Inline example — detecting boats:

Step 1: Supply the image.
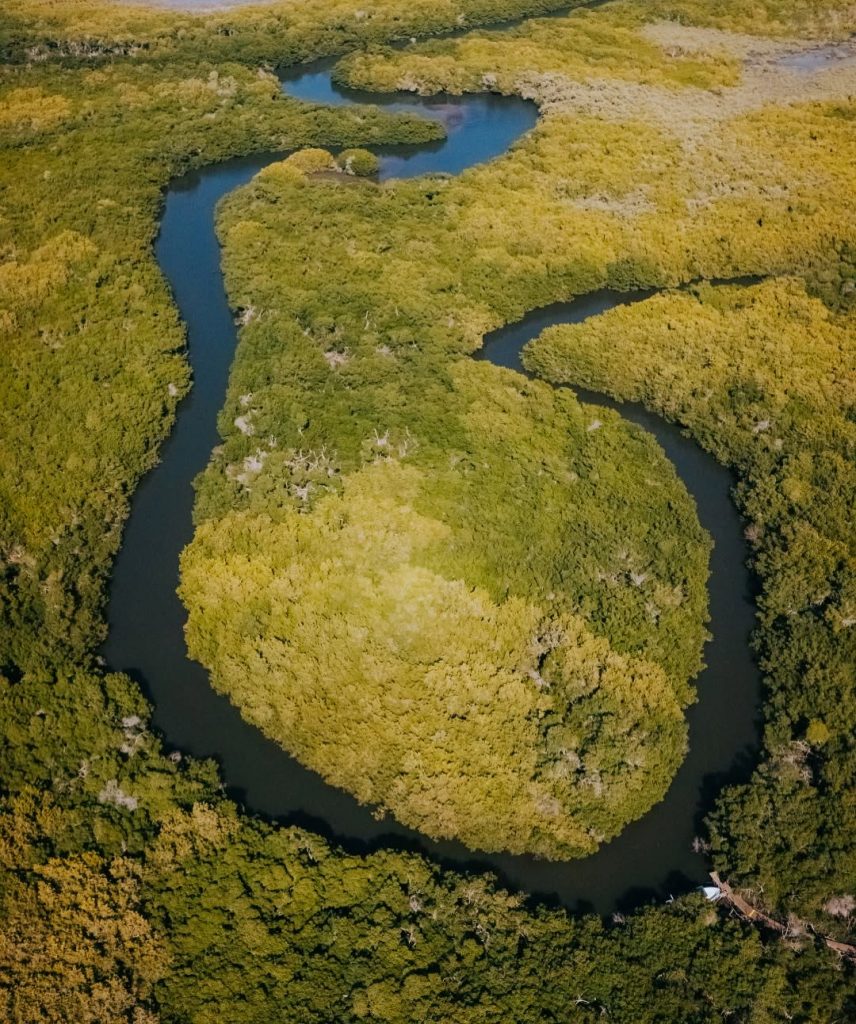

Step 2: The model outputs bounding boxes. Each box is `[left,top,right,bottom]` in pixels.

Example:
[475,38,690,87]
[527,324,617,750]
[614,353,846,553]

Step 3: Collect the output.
[697,883,721,901]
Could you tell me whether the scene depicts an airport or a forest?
forest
